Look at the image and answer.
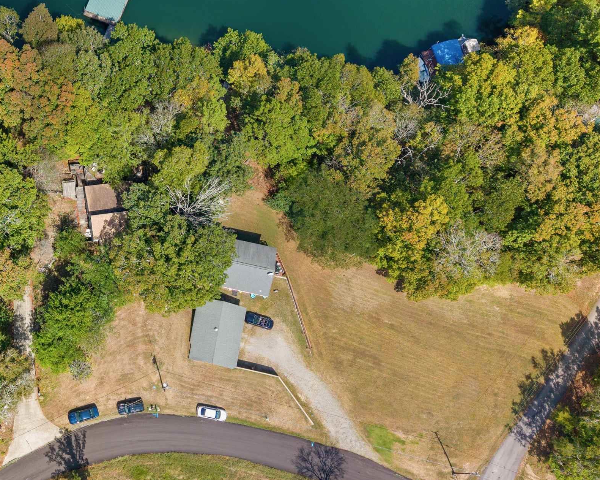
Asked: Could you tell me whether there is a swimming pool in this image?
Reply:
No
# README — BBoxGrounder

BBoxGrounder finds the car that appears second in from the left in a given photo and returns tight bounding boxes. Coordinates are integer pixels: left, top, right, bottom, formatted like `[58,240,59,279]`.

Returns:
[118,401,146,416]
